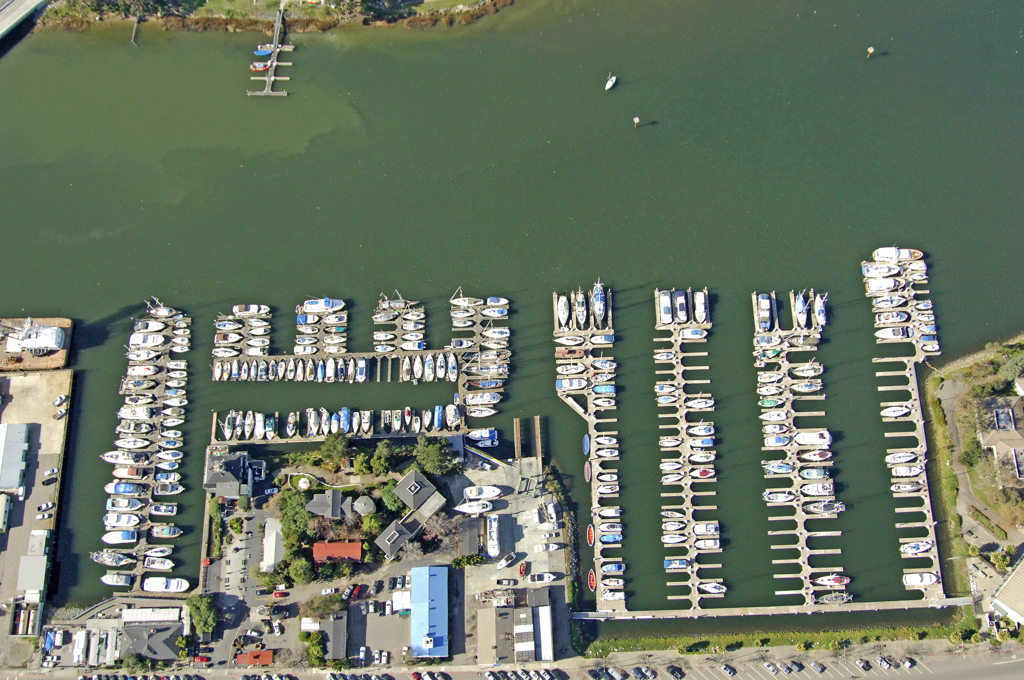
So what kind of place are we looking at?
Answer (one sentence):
It's a port.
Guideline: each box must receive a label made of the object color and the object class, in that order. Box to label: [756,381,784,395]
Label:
white boat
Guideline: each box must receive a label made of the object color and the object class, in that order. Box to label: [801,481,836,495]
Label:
white boat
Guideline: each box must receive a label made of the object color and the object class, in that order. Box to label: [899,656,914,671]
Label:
white vehicle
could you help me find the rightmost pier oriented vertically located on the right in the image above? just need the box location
[861,260,945,599]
